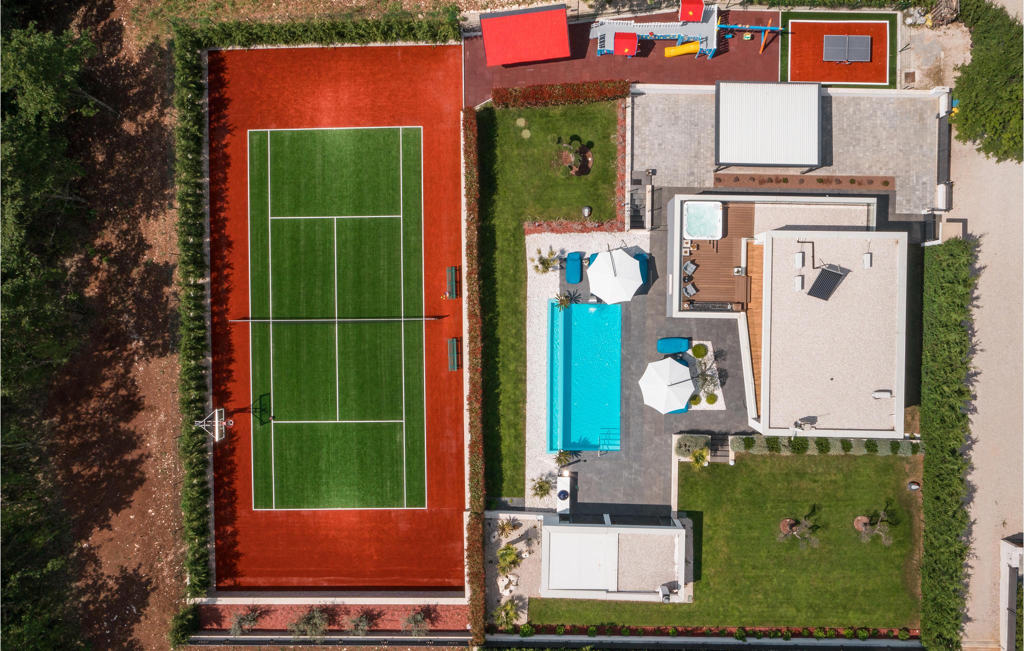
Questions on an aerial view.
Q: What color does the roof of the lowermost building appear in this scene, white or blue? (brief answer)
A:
white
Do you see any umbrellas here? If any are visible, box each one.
[639,357,706,414]
[587,236,643,304]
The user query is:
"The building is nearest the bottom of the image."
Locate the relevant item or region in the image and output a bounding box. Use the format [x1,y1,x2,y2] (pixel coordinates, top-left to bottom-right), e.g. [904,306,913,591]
[540,513,685,604]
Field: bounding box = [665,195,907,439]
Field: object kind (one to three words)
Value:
house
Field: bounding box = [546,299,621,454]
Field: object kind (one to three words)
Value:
swimming pool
